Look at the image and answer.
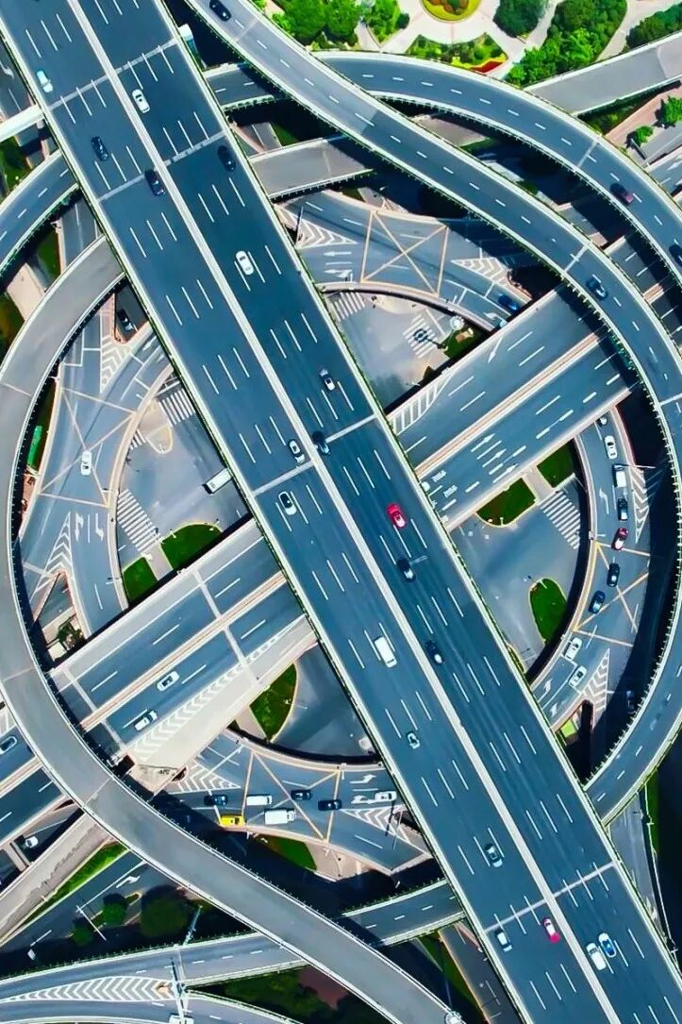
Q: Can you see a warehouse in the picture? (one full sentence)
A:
No, I can't see a single warehouse in this photo.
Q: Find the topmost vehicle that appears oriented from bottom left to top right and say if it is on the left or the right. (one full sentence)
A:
The topmost vehicle that appears oriented from bottom left to top right appears in the left half of the scene.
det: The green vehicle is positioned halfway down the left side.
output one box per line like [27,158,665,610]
[19,422,43,470]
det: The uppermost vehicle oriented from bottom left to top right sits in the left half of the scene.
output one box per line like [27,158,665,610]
[199,468,232,494]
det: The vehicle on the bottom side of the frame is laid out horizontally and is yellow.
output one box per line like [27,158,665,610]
[221,814,246,826]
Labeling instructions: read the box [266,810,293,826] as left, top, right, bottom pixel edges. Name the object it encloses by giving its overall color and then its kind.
white vehicle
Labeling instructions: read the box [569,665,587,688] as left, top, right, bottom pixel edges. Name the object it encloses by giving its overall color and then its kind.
white car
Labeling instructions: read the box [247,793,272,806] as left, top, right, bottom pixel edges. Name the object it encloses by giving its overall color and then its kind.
white vehicle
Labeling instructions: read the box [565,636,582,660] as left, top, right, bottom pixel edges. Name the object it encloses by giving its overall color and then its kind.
white car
